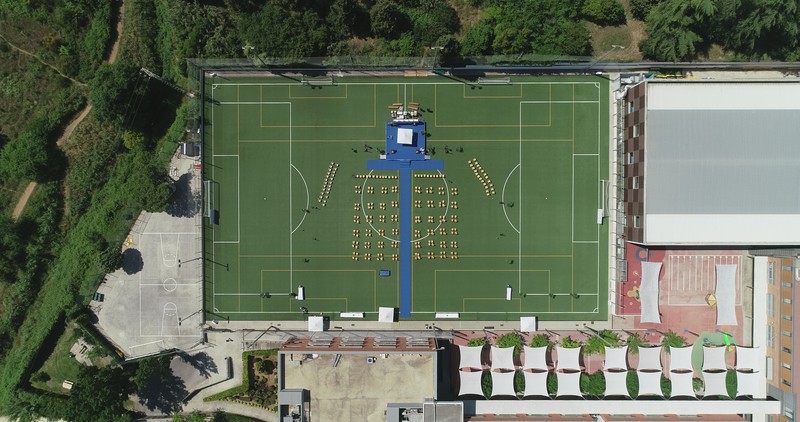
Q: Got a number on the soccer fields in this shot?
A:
1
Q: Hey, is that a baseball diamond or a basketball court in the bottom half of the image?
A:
basketball court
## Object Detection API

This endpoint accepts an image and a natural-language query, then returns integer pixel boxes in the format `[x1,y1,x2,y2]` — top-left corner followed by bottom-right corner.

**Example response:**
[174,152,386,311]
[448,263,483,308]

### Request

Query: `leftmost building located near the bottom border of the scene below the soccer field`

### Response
[280,337,438,422]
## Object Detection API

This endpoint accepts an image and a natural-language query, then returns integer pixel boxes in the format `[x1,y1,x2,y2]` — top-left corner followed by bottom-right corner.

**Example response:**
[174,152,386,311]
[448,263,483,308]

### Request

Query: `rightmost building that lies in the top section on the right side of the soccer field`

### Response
[616,78,800,248]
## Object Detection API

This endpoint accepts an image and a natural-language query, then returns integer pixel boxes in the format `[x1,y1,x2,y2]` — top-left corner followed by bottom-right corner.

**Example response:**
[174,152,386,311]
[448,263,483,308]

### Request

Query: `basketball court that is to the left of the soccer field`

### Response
[140,233,202,337]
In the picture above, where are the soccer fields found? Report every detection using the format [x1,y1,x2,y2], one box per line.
[205,77,609,321]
